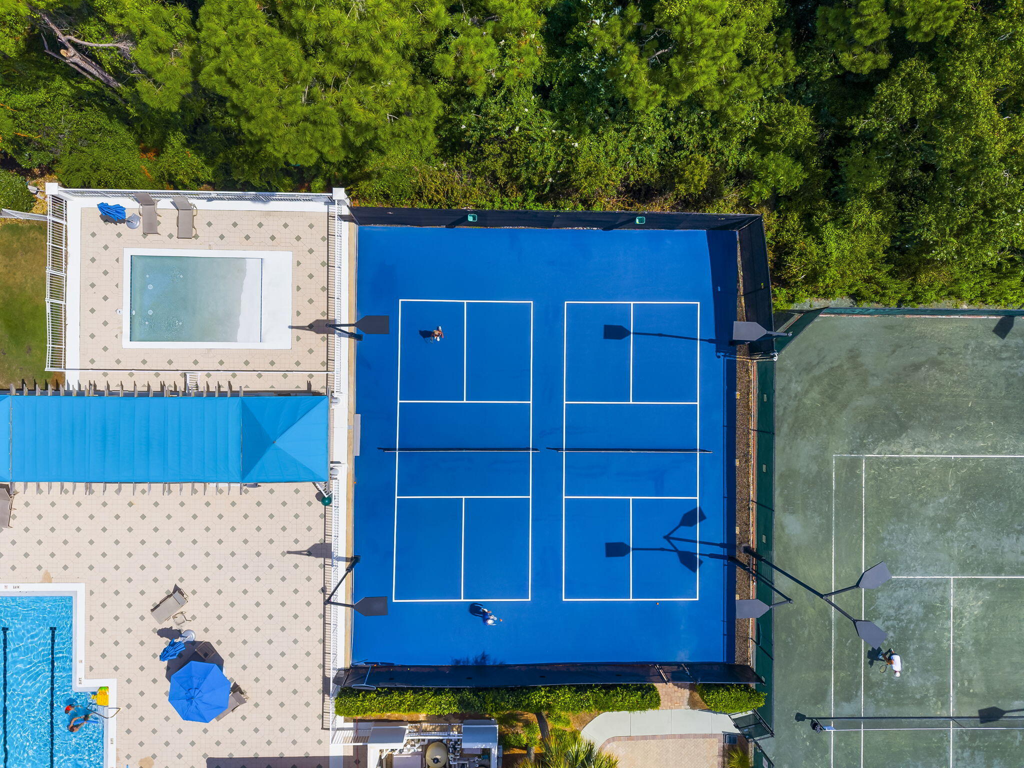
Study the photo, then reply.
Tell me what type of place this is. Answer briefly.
sports ground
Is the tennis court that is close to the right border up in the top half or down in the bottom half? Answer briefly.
bottom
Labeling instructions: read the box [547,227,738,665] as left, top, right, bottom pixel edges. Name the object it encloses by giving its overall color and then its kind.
blue sports court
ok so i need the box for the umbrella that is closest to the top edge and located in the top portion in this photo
[101,204,140,229]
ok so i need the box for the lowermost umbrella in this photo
[168,661,231,723]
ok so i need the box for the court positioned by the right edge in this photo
[754,297,1024,768]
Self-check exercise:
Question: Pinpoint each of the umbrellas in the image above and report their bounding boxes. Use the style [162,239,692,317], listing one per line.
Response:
[168,661,231,723]
[101,204,140,229]
[162,628,195,659]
